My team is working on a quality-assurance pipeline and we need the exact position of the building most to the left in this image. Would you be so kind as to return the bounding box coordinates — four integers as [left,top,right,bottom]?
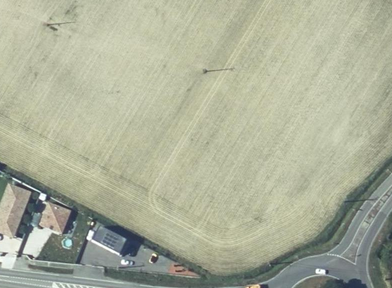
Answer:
[0,182,30,238]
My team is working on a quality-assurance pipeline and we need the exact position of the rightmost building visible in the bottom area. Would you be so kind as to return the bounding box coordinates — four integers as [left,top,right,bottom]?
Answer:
[90,226,126,256]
